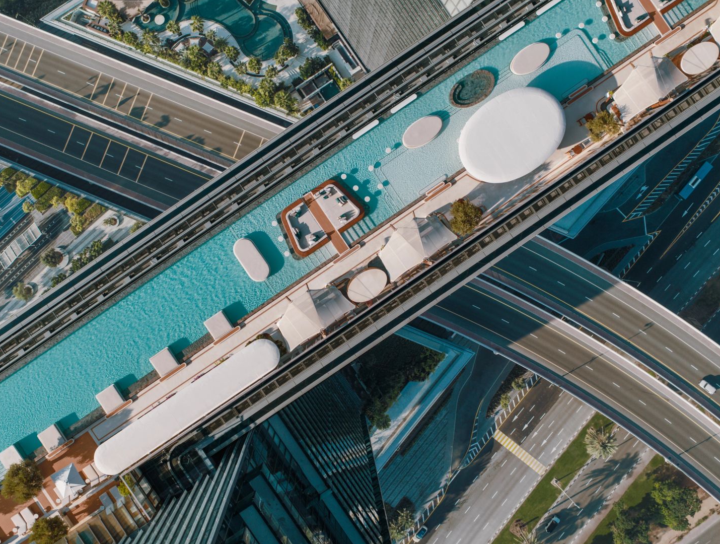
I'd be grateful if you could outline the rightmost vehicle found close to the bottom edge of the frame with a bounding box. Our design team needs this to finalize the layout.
[546,515,559,533]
